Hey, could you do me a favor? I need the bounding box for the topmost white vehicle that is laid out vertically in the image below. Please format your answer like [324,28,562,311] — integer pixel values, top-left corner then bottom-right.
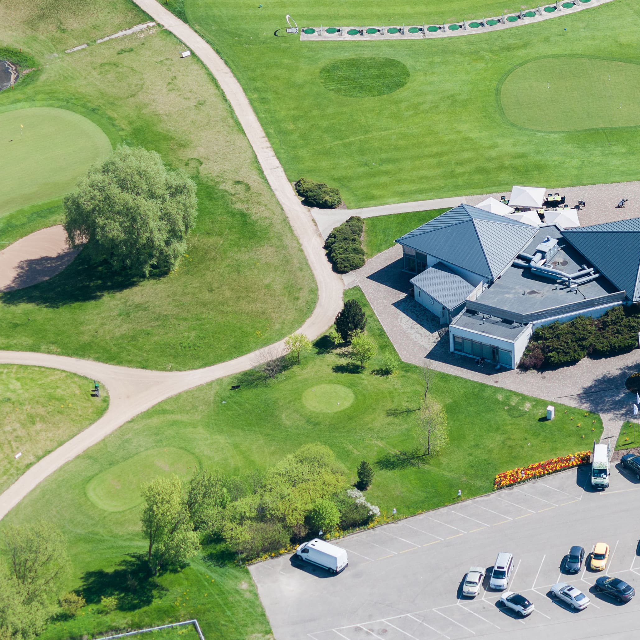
[589,436,612,493]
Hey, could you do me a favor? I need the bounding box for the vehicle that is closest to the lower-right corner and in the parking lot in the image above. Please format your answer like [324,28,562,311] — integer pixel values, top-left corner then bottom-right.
[593,578,639,606]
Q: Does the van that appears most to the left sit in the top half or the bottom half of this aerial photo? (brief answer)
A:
bottom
